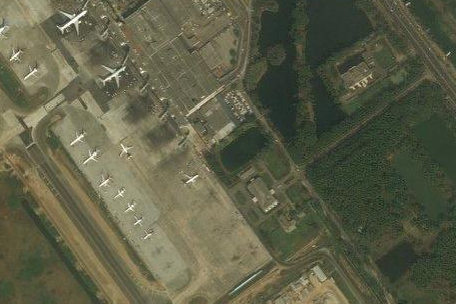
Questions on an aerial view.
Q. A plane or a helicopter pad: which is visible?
plane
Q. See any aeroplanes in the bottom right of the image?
No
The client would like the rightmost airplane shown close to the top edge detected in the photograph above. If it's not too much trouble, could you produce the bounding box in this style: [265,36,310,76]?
[57,11,87,36]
